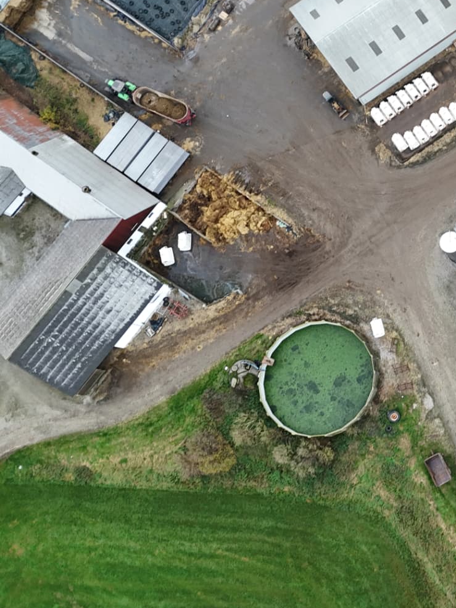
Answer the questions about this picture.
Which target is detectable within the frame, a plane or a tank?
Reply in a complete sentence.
The image shows a tank.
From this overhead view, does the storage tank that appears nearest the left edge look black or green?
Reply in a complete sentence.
In this view, the storage tank that appears nearest the left edge is green.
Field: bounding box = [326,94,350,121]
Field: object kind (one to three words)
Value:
work vehicle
